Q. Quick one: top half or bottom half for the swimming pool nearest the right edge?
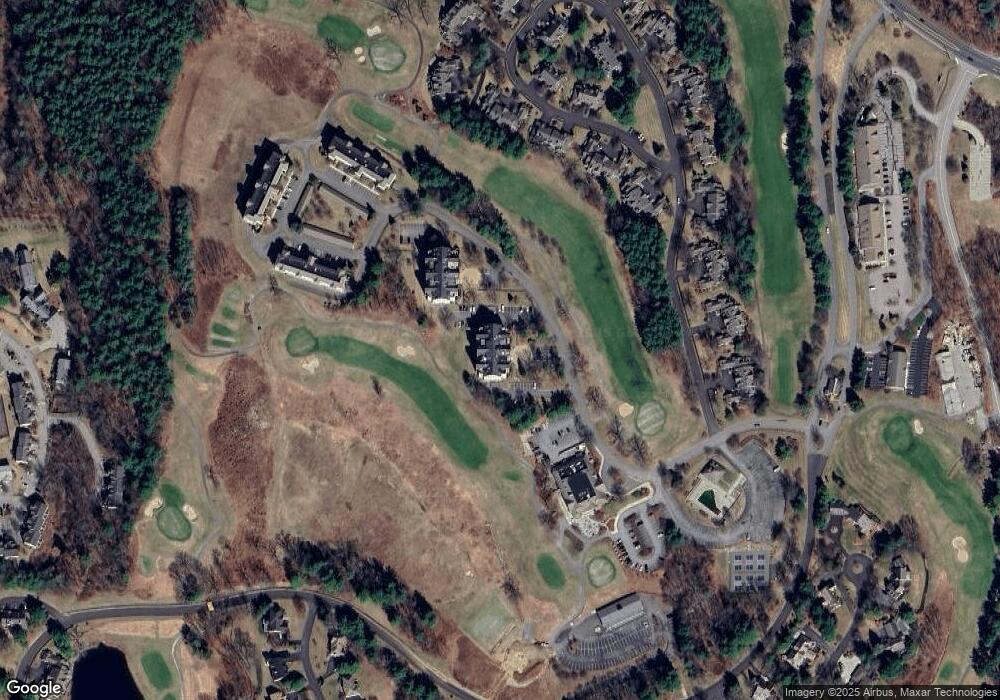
bottom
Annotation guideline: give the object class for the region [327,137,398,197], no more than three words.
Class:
building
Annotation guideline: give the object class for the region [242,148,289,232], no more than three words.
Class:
building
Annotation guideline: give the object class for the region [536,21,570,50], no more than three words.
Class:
house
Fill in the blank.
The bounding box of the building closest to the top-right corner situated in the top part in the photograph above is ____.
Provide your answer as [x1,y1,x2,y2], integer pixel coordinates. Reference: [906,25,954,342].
[863,103,885,126]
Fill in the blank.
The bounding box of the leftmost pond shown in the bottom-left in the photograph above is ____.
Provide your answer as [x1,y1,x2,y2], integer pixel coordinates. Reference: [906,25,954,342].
[72,643,143,700]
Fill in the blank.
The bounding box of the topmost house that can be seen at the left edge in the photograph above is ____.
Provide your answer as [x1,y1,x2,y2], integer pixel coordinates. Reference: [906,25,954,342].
[21,263,37,291]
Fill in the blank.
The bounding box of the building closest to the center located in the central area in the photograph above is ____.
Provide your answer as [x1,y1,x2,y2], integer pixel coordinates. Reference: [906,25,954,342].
[476,323,509,383]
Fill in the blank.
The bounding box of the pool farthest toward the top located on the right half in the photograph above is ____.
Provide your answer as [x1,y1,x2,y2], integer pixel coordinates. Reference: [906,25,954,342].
[697,488,721,515]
